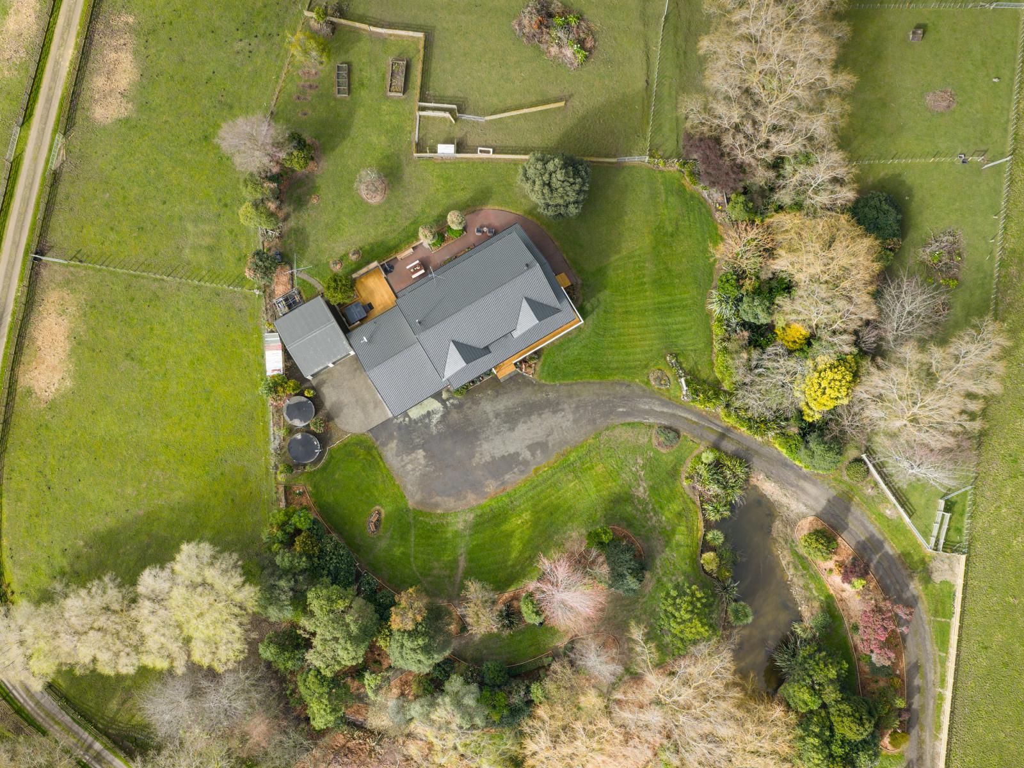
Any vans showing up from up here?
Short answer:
No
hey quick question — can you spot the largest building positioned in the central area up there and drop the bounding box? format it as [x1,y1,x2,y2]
[346,221,583,418]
